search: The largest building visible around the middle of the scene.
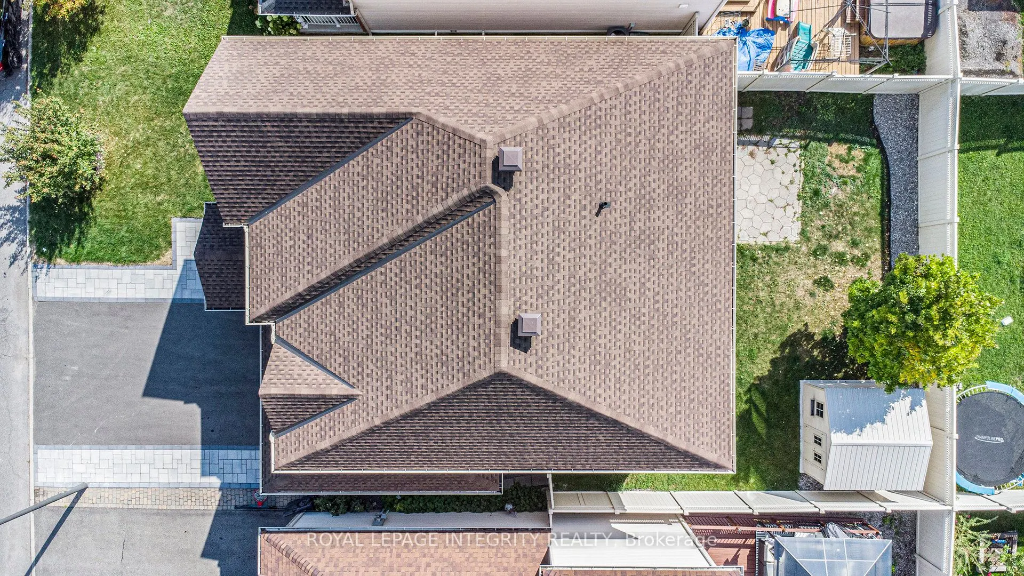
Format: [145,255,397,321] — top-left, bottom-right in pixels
[182,34,736,494]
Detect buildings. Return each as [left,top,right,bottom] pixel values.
[259,512,745,576]
[259,0,724,35]
[800,379,936,490]
[182,34,736,494]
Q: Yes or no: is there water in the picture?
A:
No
